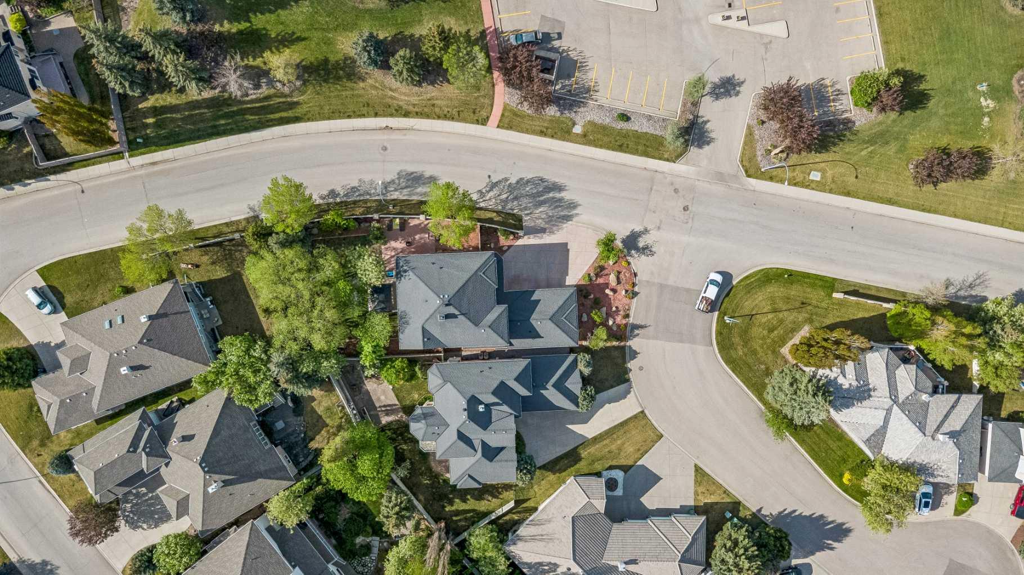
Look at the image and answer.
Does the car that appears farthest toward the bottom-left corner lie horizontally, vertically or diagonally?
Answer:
diagonally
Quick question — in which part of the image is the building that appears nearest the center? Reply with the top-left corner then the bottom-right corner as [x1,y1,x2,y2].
[395,251,578,350]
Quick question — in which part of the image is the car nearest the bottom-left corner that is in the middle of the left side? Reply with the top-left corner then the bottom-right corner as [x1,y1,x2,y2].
[20,285,52,317]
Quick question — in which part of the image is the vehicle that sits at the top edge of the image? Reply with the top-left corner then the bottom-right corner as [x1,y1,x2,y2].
[510,25,544,46]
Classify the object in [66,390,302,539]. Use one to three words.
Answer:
house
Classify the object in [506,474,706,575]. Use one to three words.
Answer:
house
